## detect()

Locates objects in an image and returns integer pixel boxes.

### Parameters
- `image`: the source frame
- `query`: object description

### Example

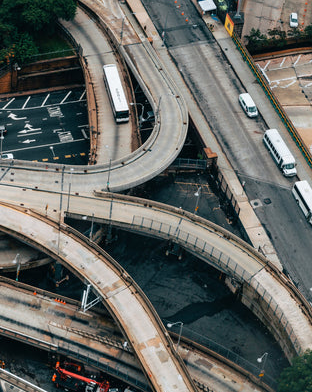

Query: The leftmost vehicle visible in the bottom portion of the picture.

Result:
[48,360,108,392]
